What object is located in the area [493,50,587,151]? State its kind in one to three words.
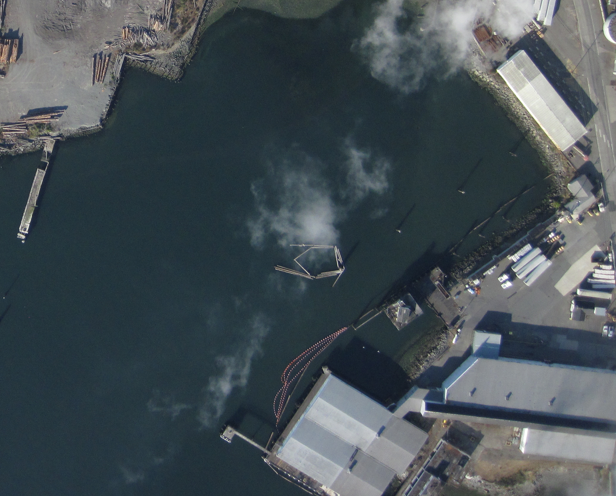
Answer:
shed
